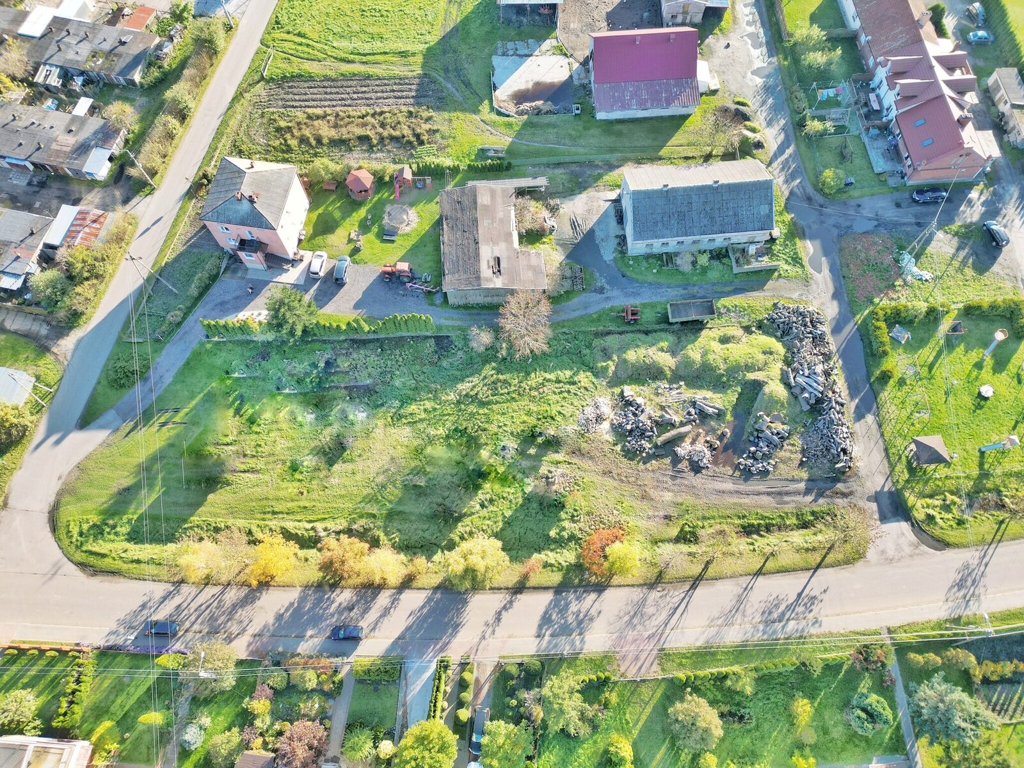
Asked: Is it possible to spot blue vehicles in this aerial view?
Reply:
Yes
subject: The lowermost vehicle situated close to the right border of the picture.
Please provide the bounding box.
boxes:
[981,222,1012,248]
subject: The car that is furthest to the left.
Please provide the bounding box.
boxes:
[144,619,181,637]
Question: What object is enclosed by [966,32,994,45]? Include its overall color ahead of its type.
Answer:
blue vehicle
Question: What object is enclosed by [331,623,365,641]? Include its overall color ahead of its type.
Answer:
blue car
